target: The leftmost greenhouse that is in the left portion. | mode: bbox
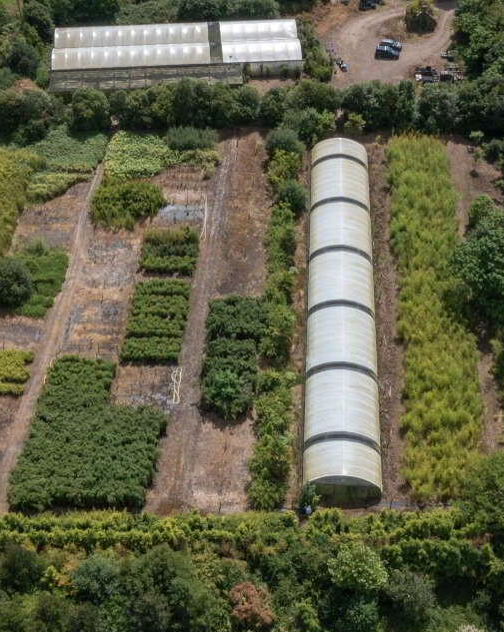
[51,23,240,90]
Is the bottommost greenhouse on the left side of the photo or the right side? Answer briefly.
right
